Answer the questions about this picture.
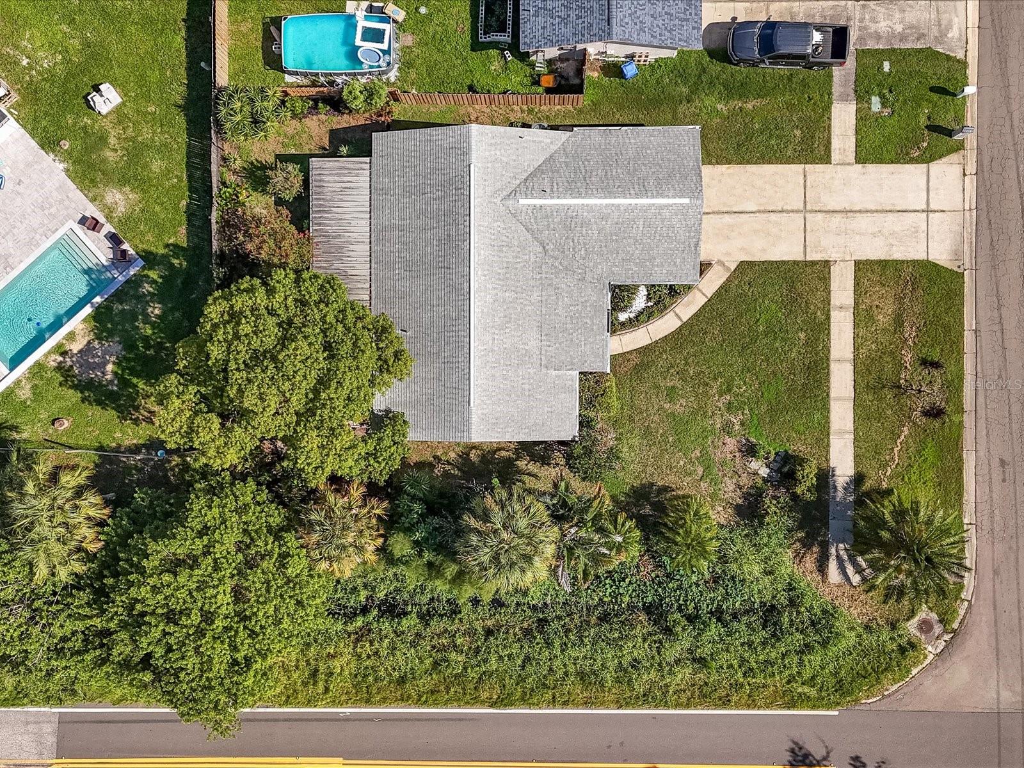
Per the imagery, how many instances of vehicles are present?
1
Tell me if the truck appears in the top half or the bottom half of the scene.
top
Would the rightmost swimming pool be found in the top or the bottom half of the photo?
top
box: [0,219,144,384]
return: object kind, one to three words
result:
swimming pool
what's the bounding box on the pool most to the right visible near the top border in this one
[282,11,403,89]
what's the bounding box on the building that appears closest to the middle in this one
[371,122,705,444]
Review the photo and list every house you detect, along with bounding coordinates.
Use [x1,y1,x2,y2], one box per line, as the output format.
[519,0,703,59]
[371,122,705,444]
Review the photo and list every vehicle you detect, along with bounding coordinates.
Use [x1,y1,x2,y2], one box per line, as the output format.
[726,15,853,72]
